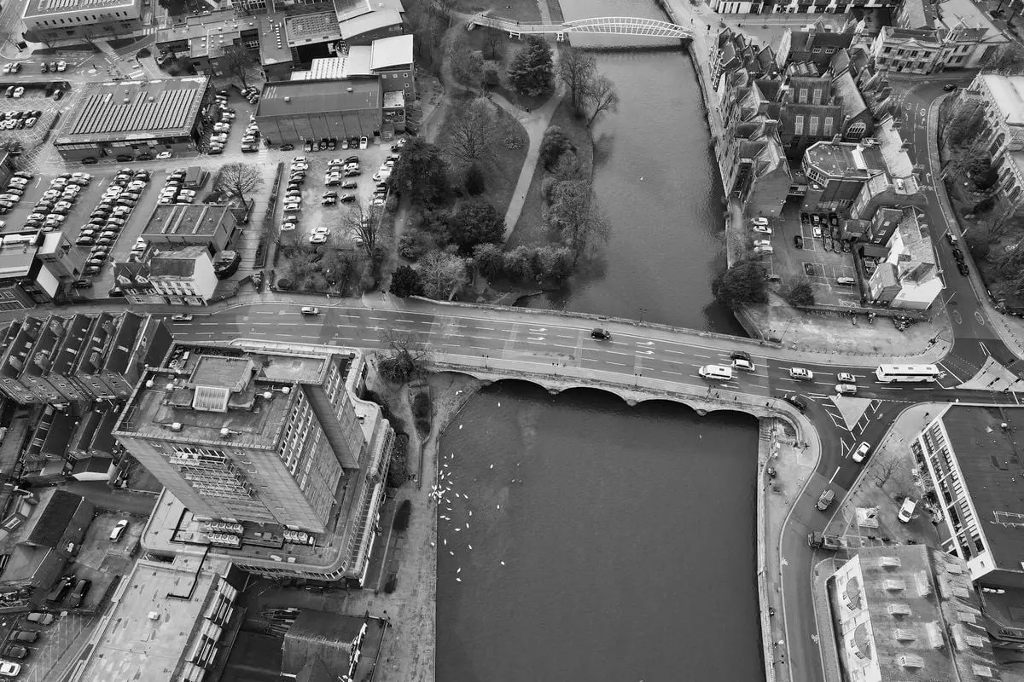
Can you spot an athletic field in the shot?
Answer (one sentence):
No, this view has no athletic field in it.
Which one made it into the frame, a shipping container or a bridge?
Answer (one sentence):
Of the two, only a bridge appears.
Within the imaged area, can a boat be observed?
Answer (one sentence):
No, there appears to be no boat in this shot.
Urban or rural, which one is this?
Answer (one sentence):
The area is urban.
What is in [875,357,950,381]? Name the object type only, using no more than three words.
bus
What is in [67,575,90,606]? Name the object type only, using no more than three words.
car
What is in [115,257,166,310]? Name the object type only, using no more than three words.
house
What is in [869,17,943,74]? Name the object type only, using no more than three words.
building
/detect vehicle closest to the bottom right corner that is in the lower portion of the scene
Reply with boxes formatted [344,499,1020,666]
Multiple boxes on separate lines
[898,491,920,523]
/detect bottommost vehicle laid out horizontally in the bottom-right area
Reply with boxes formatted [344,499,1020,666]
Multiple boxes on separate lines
[809,529,855,551]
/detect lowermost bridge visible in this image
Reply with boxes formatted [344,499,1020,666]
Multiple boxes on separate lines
[410,291,772,420]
